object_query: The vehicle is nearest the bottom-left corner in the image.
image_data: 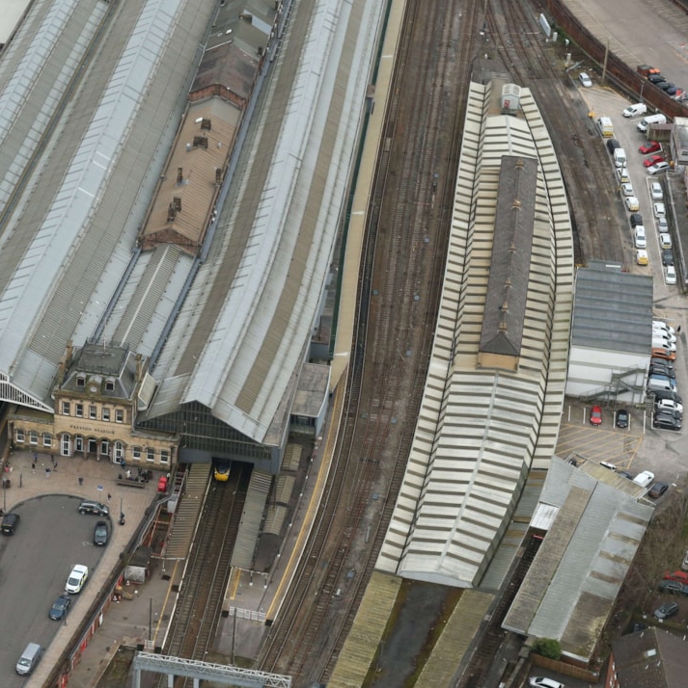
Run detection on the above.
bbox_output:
[18,645,39,673]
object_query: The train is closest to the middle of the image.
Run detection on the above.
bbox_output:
[214,459,235,480]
